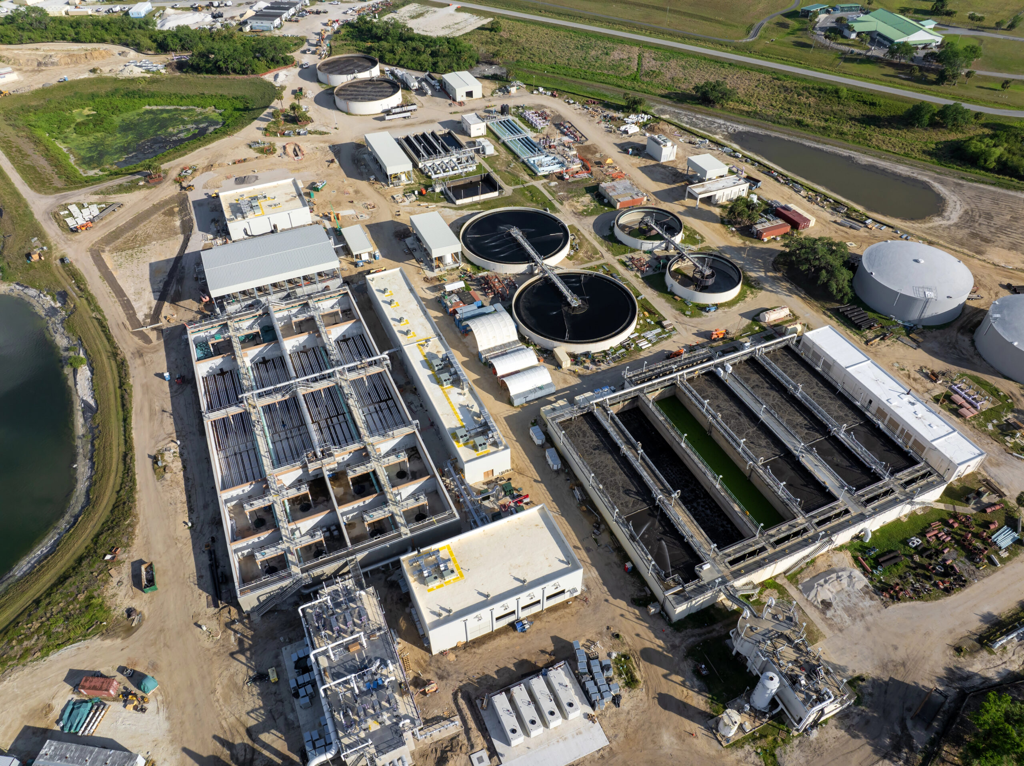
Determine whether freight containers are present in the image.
Yes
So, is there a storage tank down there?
Yes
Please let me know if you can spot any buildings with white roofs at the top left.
Yes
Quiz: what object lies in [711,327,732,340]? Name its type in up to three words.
vehicle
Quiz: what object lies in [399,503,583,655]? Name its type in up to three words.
building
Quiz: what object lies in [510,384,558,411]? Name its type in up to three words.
shipping container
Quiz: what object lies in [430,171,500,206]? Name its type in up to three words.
storage tank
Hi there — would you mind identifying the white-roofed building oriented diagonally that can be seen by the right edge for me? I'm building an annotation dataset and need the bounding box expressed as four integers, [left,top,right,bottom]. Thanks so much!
[800,325,987,479]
